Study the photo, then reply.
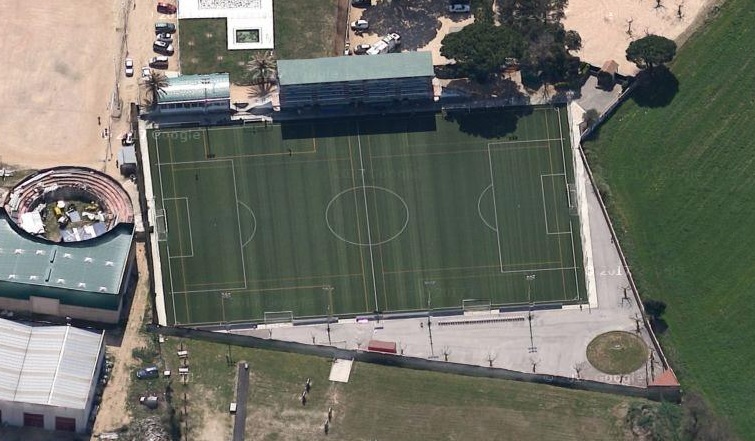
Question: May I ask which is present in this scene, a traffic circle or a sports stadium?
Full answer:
It is a sports stadium that can be seen here.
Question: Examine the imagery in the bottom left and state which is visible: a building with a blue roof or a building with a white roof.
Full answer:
It is a building with a white roof that can be seen in the bottom left.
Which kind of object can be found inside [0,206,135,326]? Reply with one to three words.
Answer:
building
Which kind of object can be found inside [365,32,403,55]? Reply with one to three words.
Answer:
truck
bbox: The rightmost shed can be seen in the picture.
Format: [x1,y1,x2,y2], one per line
[647,368,680,395]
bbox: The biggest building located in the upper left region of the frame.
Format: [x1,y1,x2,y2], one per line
[157,74,230,114]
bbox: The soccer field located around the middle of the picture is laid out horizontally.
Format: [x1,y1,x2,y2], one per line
[147,107,588,327]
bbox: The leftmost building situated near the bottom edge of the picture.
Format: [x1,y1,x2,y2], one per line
[0,320,104,430]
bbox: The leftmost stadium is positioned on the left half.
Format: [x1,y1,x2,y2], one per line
[3,166,135,241]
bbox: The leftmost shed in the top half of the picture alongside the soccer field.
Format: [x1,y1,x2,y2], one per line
[118,145,137,173]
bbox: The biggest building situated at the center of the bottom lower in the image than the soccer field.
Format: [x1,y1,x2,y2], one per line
[369,337,397,354]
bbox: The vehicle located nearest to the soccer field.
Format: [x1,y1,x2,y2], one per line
[122,134,134,147]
